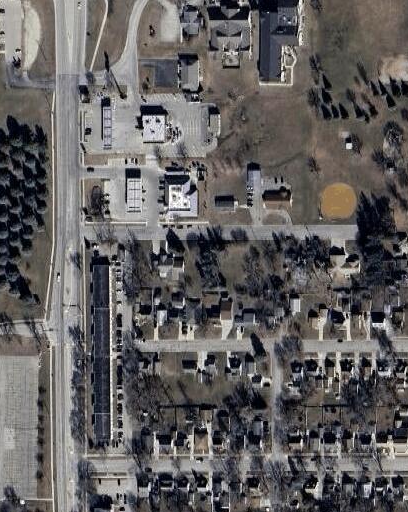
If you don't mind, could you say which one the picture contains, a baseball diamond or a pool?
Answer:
baseball diamond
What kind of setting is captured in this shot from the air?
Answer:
residential area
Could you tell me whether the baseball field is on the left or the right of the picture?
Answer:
right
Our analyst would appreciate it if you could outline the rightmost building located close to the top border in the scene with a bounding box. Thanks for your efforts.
[260,0,299,80]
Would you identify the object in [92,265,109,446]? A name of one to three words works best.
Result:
building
